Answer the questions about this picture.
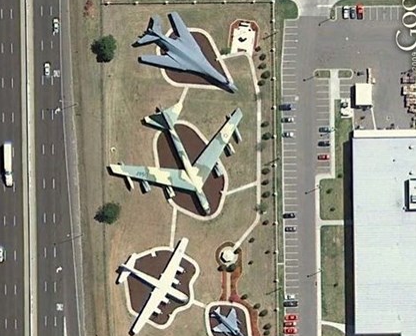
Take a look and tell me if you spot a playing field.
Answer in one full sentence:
No, no playing field can be seen from above.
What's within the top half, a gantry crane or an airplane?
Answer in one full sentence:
What appears within the top half is an airplane.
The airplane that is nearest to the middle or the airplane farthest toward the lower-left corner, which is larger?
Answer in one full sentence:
Of the two, the airplane that is nearest to the middle is larger and the airplane farthest toward the lower-left corner is the smaller one.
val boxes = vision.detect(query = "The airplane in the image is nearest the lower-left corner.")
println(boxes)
[120,235,190,334]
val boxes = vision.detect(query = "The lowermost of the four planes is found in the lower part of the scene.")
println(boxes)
[206,306,242,336]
